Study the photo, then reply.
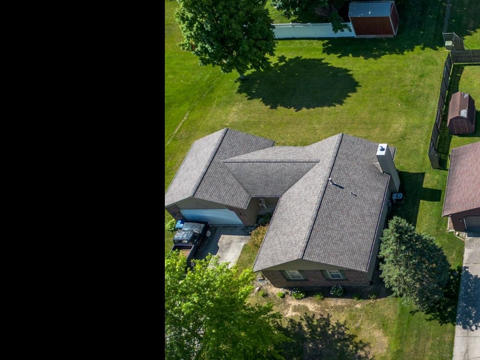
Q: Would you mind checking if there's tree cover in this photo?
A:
Yes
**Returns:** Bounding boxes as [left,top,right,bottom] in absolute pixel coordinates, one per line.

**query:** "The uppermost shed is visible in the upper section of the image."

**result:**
[348,2,397,36]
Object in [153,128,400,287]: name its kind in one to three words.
house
